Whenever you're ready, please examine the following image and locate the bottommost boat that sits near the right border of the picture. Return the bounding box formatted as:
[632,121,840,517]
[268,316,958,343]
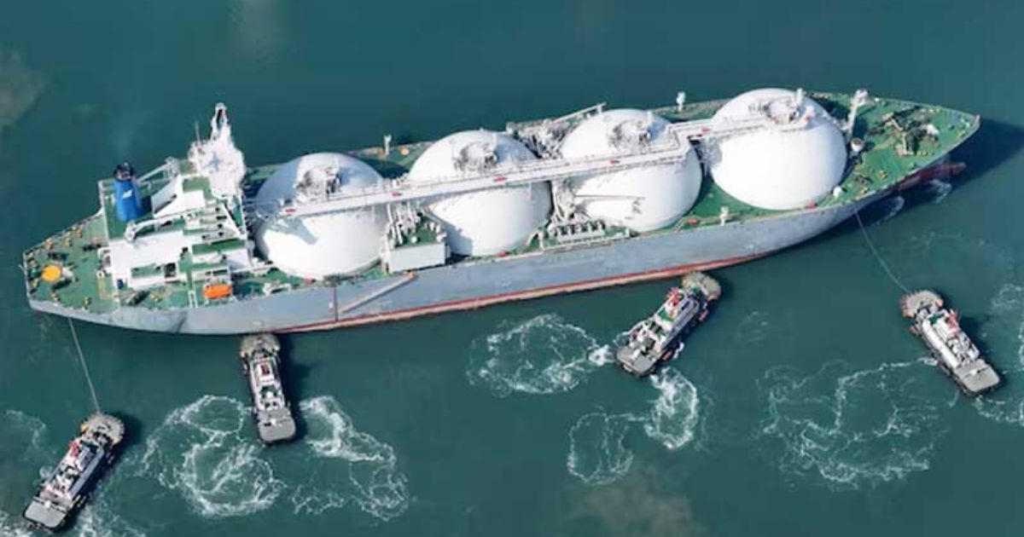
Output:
[907,286,1000,396]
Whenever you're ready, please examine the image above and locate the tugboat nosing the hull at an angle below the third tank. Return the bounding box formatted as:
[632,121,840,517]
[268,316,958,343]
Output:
[619,270,716,381]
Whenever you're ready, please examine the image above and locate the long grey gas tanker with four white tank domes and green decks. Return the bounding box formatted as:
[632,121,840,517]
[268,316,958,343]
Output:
[23,82,979,334]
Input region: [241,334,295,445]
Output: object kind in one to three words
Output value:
boat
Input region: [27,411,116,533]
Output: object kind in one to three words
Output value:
boat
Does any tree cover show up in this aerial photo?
No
